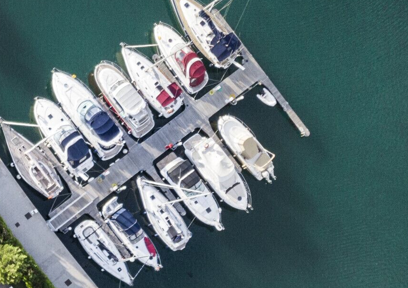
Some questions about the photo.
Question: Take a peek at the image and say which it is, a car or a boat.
boat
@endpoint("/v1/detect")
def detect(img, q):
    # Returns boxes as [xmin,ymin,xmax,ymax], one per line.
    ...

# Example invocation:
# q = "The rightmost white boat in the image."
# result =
[256,88,276,107]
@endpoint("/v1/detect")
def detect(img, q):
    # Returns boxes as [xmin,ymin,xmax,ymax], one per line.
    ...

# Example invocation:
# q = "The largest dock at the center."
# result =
[39,8,311,260]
